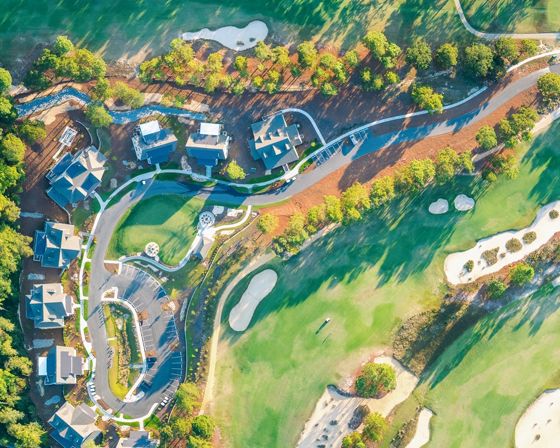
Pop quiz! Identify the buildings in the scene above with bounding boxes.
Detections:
[245,108,306,170]
[193,235,214,259]
[134,120,175,163]
[49,401,104,448]
[33,223,83,269]
[119,428,159,448]
[24,284,74,329]
[45,147,109,206]
[40,345,83,385]
[188,122,229,166]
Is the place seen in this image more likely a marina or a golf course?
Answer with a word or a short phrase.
golf course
